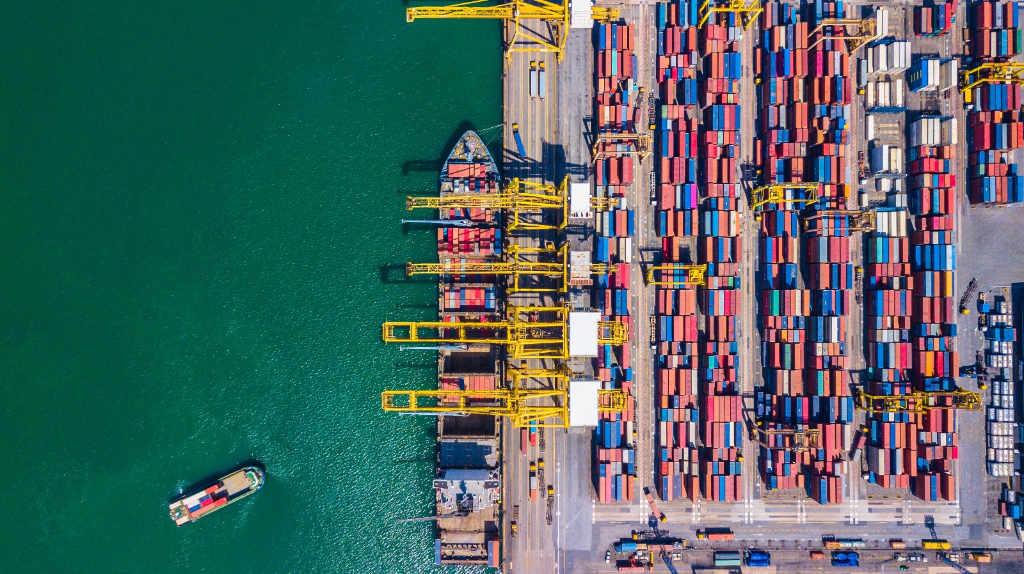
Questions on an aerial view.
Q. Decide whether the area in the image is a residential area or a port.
port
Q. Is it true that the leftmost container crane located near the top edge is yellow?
Yes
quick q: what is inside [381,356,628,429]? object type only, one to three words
container crane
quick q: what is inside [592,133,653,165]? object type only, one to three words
container crane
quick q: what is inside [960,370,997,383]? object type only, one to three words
vehicle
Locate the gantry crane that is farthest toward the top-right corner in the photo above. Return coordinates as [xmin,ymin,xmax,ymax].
[964,53,1024,90]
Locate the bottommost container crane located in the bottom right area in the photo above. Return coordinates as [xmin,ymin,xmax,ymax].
[751,417,822,448]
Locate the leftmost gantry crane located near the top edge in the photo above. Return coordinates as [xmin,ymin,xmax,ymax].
[404,0,619,71]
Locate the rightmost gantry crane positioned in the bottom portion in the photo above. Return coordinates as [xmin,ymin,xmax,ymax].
[911,386,983,415]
